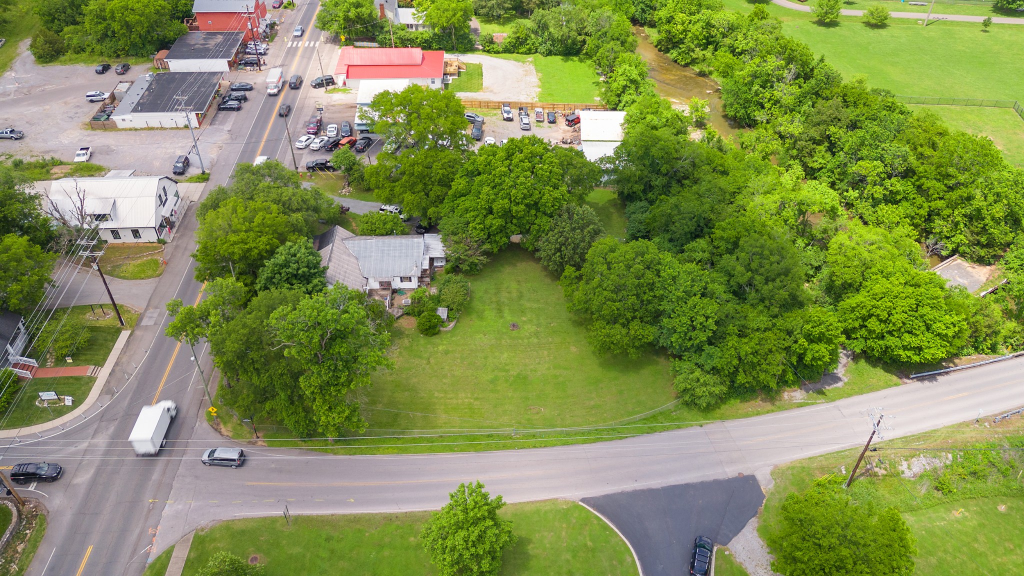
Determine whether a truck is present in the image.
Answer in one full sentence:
Yes, the frame does contain a truck.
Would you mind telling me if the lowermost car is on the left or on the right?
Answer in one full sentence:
The lowermost car appears in the right half of the scene.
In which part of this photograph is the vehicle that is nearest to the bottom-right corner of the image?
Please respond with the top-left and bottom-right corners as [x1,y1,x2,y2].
[685,533,716,576]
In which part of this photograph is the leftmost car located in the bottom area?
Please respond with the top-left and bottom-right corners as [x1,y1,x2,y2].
[3,458,68,486]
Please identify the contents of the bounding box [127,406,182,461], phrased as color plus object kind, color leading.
white truck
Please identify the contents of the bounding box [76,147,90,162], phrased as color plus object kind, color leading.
white vehicle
